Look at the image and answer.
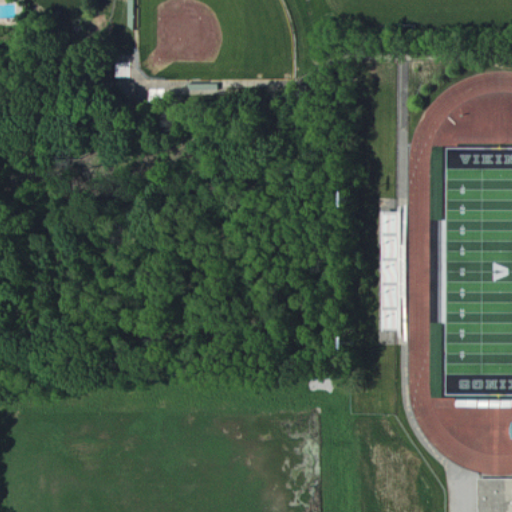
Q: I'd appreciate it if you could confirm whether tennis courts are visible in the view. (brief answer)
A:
No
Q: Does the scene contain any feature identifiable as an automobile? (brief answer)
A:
No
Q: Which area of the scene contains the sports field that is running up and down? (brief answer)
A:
right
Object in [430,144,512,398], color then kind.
green sports field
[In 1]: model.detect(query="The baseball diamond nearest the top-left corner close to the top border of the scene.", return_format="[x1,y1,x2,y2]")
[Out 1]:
[138,0,293,80]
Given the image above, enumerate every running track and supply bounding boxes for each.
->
[408,70,512,476]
